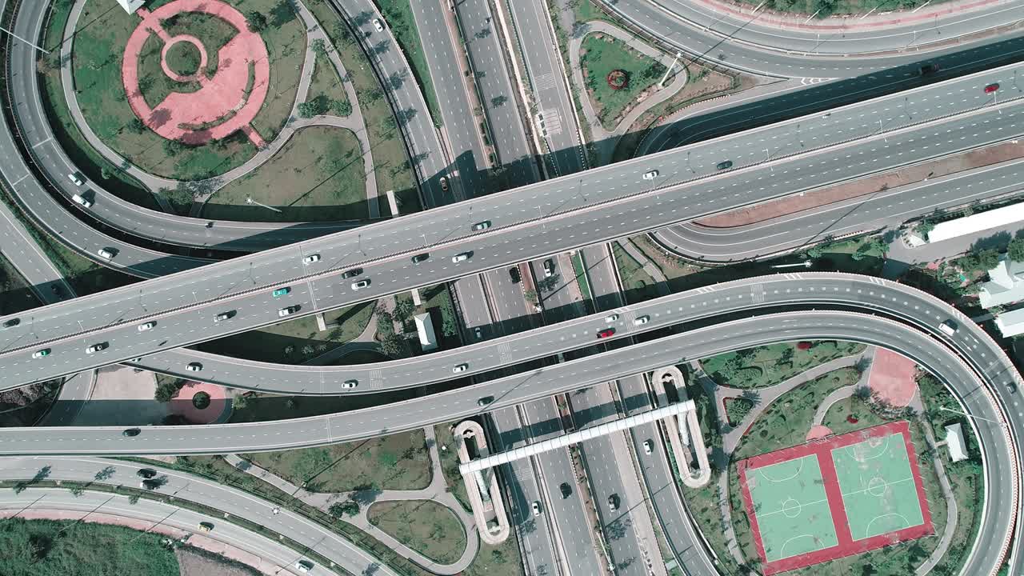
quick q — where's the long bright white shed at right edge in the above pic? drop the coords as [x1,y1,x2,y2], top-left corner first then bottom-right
[923,202,1024,244]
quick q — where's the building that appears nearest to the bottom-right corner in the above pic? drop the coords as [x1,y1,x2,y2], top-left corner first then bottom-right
[940,423,968,461]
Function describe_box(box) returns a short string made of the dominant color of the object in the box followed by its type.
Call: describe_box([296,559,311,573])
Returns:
white vehicle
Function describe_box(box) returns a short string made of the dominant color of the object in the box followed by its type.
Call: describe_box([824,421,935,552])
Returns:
green sports court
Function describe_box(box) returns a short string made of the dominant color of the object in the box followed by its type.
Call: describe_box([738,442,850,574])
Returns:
green sports court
